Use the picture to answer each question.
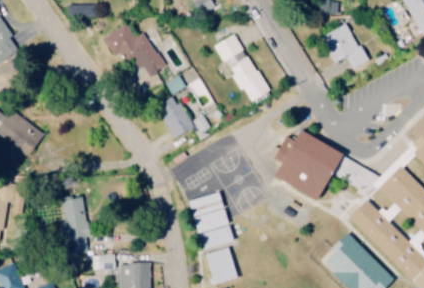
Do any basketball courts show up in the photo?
Yes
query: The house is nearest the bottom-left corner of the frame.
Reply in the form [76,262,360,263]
[0,261,26,288]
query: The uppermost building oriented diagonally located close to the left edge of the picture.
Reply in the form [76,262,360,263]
[0,108,48,158]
